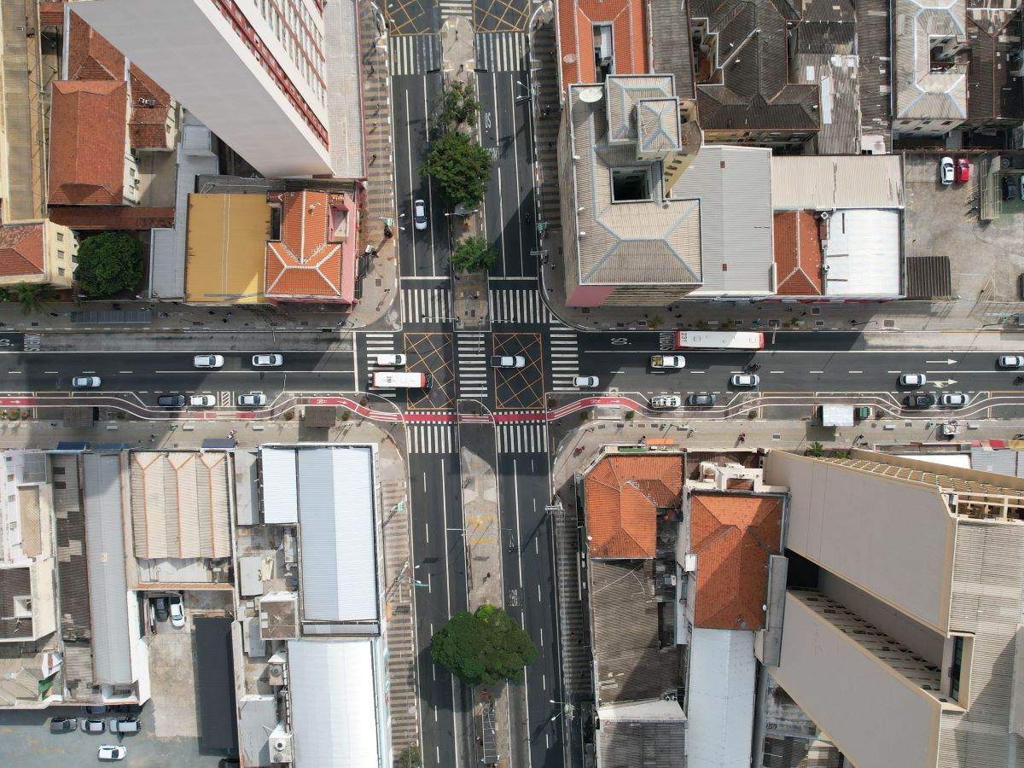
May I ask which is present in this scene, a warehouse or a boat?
warehouse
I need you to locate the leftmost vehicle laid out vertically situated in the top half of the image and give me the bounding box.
[413,199,427,230]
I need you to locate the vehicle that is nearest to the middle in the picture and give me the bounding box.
[491,354,525,368]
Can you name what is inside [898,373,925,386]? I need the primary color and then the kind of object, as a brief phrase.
white vehicle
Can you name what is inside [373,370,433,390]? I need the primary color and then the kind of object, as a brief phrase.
white bus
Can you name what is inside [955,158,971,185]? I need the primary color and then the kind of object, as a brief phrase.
red car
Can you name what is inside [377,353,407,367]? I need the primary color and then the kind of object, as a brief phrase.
white vehicle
